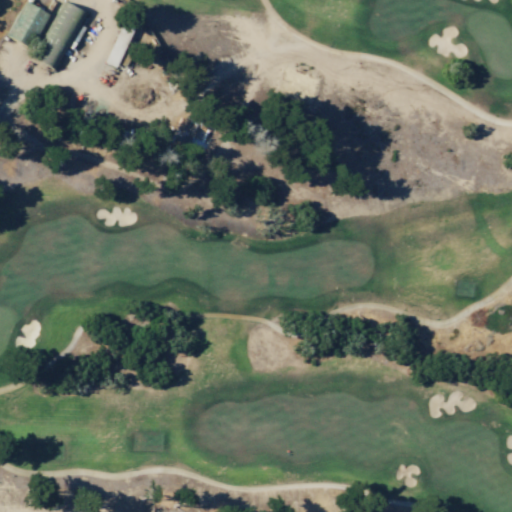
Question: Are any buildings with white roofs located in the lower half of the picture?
No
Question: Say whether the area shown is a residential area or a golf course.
golf course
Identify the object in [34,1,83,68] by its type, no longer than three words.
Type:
barn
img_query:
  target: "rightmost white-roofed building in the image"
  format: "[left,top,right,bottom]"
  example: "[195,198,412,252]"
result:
[106,27,134,68]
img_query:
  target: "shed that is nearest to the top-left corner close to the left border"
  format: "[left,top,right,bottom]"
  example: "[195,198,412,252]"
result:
[10,2,49,45]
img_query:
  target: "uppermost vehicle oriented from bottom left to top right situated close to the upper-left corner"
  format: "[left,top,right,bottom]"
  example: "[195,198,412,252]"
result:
[71,26,87,48]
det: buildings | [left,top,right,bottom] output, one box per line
[106,27,134,68]
[34,1,83,68]
[10,2,49,45]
